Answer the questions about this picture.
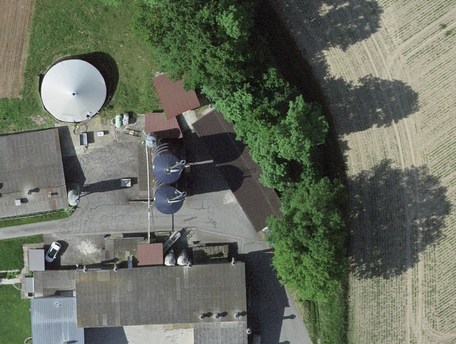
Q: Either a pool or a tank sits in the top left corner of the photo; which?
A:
tank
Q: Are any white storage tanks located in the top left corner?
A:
Yes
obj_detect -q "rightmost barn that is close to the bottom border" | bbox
[76,254,251,344]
